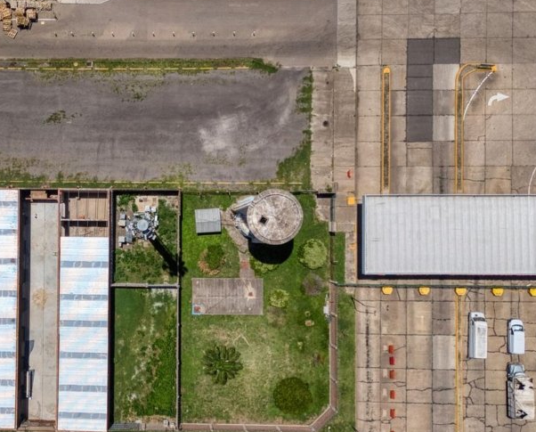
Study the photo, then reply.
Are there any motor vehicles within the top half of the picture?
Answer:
No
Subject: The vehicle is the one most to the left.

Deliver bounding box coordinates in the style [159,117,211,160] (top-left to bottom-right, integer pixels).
[469,311,488,359]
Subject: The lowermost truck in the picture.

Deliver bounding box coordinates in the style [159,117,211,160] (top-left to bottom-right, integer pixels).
[509,362,533,423]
